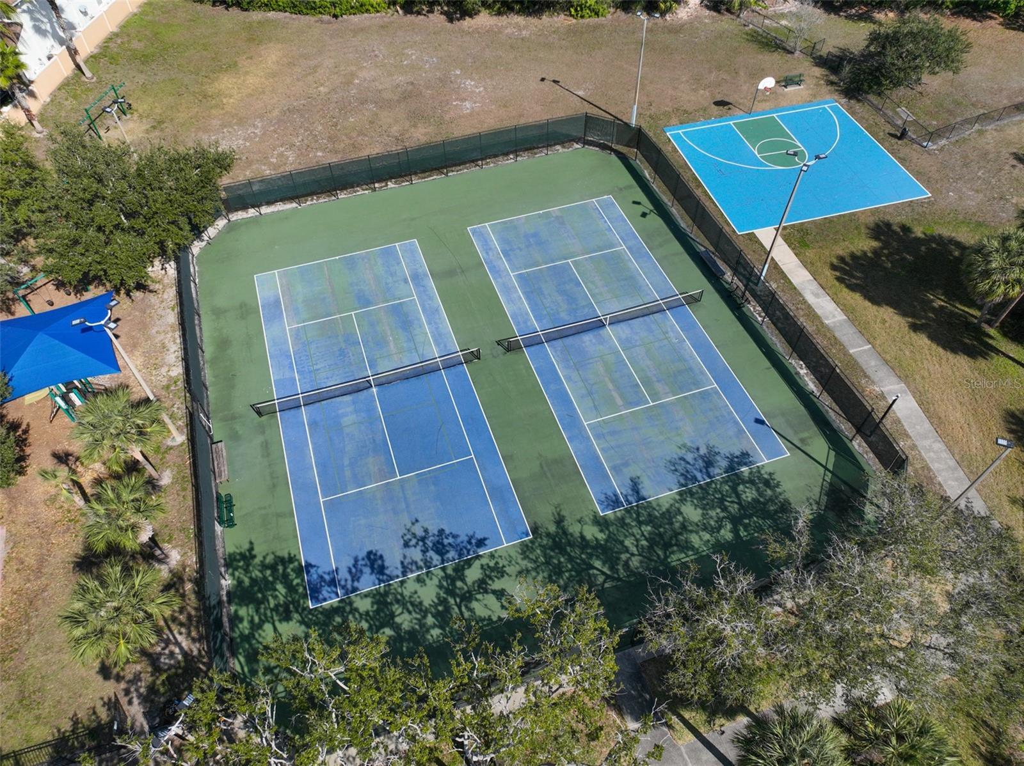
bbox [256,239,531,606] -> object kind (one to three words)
tennis court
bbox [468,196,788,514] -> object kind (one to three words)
tennis court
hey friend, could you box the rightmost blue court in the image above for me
[663,98,934,234]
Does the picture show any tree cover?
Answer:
Yes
